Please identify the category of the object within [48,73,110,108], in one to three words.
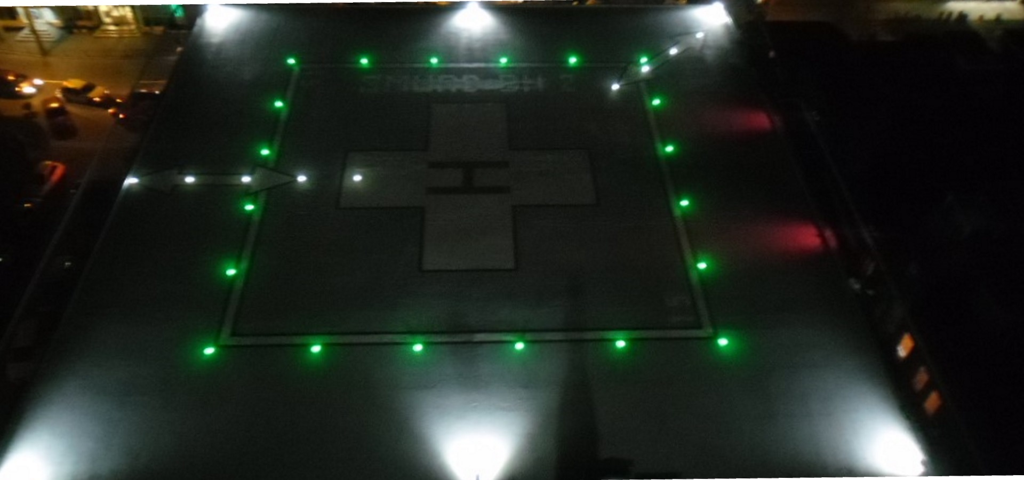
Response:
car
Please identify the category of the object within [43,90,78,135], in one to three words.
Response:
car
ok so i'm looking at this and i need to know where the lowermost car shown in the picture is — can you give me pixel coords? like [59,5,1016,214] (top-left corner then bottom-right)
[11,164,72,214]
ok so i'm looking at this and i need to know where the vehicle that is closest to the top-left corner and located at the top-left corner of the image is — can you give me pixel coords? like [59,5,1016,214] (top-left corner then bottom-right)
[0,65,44,99]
